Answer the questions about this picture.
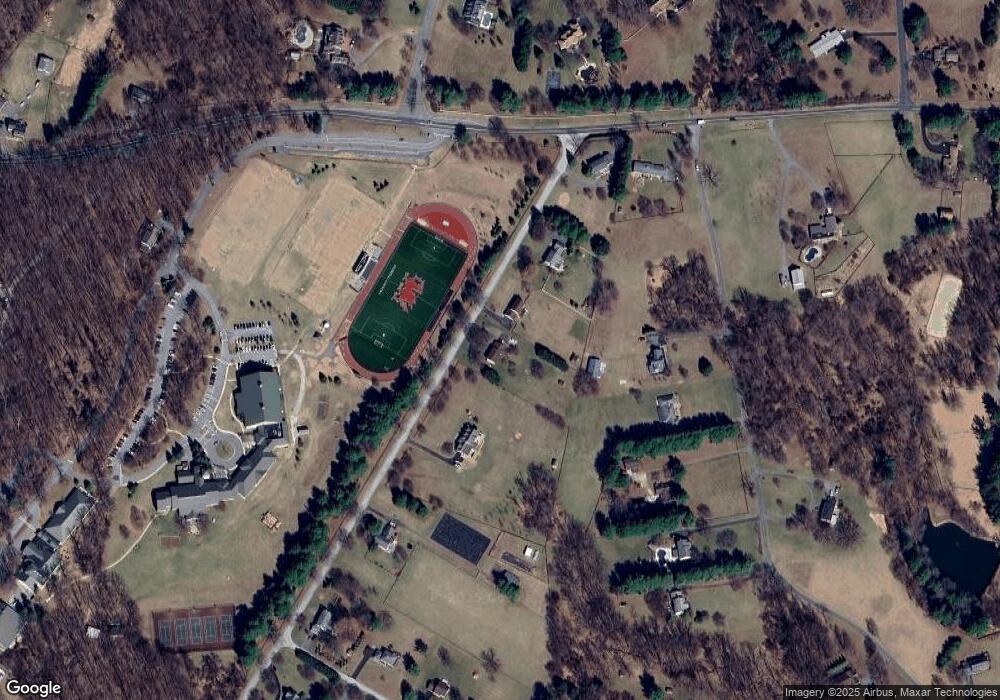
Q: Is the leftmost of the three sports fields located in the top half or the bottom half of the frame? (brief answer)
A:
top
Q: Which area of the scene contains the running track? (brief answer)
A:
center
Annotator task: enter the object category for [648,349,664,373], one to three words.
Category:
house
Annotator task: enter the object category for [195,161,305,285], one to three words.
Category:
sports field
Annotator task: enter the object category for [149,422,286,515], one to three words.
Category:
building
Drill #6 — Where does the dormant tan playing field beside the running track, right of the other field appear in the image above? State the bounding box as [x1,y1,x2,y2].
[265,180,387,315]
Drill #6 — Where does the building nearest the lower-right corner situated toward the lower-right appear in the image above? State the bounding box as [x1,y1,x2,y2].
[960,658,991,675]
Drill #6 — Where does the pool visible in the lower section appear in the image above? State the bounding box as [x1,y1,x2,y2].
[654,548,674,563]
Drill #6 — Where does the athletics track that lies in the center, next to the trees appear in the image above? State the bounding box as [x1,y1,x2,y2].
[340,194,477,382]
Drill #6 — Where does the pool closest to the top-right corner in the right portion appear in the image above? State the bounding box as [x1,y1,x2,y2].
[803,245,821,263]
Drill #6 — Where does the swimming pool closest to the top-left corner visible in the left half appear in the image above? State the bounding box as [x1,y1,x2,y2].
[290,21,314,48]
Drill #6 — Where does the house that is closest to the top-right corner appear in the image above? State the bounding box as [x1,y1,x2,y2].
[934,48,961,62]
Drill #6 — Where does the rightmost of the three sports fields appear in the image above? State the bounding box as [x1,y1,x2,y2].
[349,223,467,373]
